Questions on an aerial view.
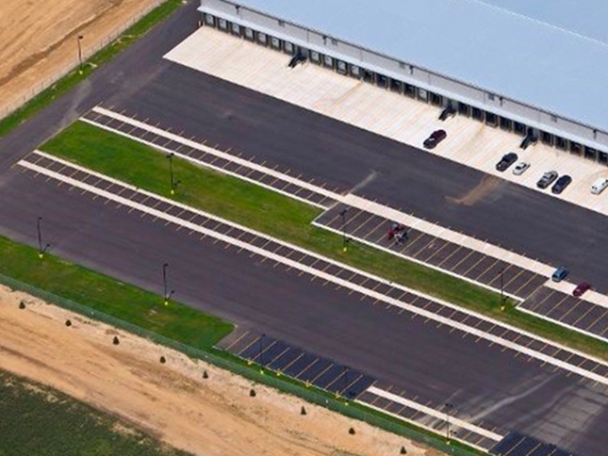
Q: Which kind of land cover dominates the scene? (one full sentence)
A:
For the most part, this view shows paved ground.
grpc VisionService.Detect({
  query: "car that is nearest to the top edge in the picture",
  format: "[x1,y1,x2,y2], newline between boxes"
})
[425,127,444,144]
